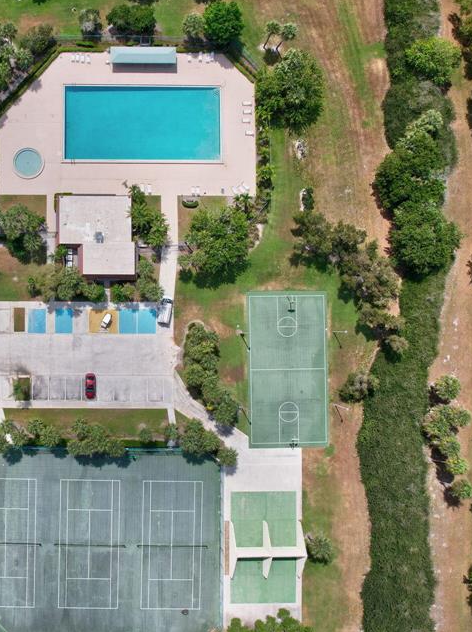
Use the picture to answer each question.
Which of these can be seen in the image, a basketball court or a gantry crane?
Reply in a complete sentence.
Of the two, only a basketball court appears.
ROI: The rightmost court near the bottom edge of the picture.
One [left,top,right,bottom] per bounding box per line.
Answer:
[230,490,309,604]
